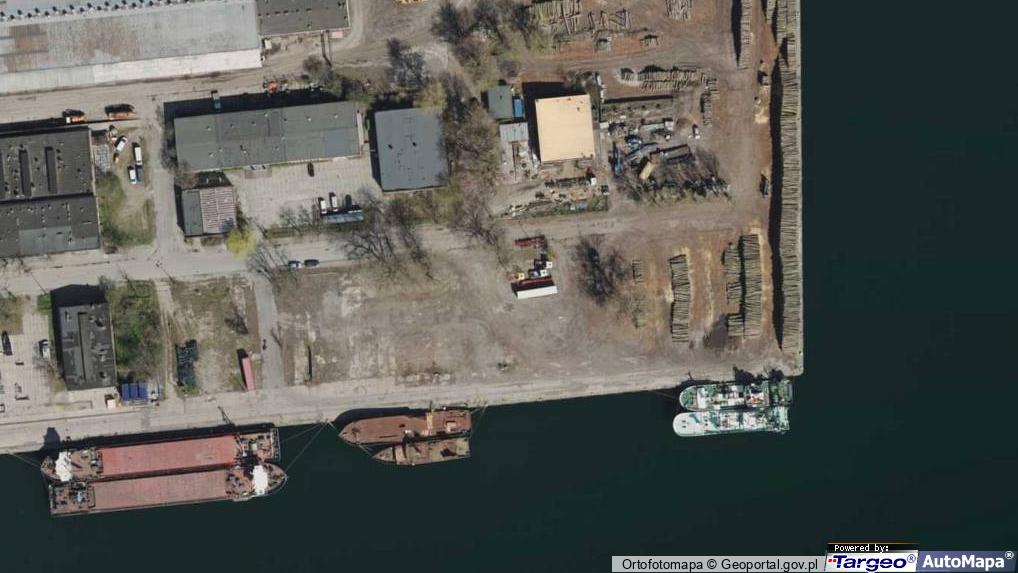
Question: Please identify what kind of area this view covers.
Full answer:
The area seen from above is a port.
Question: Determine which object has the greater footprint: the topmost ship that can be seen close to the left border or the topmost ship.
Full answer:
The topmost ship that can be seen close to the left border covers a greater area than the topmost ship.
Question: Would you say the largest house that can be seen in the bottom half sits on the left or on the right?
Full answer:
You can find the largest house that can be seen in the bottom half on the left side of the picture.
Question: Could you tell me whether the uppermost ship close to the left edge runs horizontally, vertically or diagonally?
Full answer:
In this picture, the uppermost ship close to the left edge lies horizontally.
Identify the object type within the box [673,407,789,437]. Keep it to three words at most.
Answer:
ship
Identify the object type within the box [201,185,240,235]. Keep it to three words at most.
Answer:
house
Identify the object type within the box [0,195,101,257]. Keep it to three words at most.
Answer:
building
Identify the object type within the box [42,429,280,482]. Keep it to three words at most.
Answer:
ship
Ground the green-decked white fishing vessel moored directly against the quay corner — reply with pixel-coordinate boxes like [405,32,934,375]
[679,382,792,411]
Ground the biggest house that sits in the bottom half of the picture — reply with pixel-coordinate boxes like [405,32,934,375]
[60,302,119,391]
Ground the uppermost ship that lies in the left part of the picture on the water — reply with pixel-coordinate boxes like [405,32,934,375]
[339,409,472,445]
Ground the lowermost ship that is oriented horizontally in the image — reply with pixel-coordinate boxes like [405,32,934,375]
[50,463,287,516]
